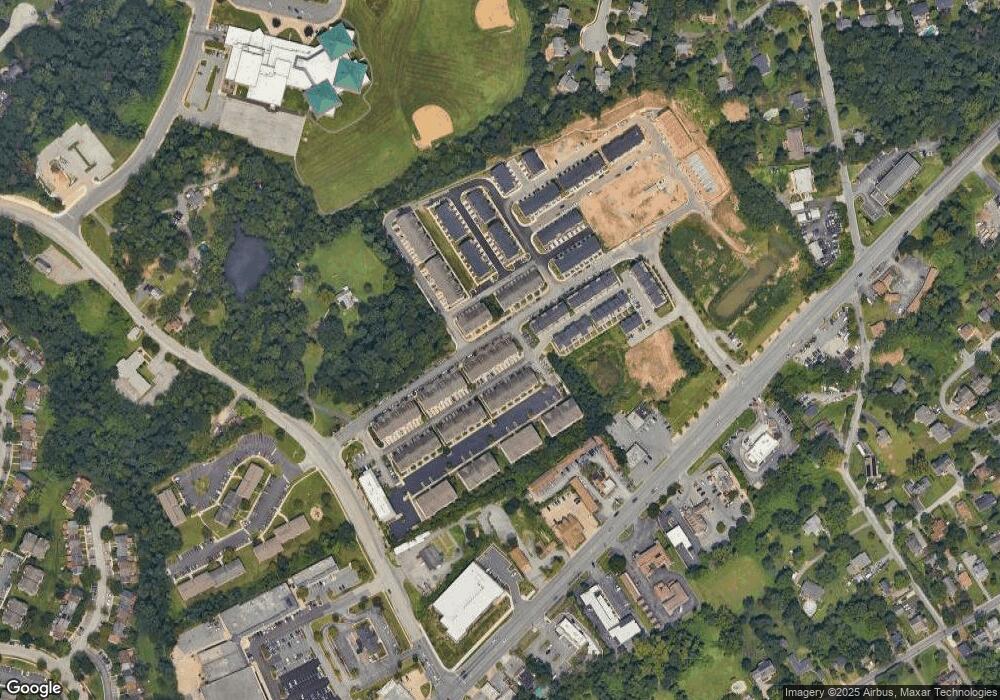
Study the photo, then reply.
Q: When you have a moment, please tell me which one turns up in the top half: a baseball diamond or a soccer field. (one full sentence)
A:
What appears in the top half is a baseball diamond.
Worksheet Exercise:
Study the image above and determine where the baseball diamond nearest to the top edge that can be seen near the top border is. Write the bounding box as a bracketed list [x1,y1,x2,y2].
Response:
[475,0,519,33]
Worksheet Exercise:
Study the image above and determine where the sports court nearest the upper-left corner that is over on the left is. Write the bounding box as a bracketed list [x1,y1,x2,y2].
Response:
[220,97,306,155]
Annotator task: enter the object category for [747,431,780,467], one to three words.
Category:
building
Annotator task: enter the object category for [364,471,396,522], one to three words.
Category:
building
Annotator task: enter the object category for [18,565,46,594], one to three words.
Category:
house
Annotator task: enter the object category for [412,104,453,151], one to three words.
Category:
baseball field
